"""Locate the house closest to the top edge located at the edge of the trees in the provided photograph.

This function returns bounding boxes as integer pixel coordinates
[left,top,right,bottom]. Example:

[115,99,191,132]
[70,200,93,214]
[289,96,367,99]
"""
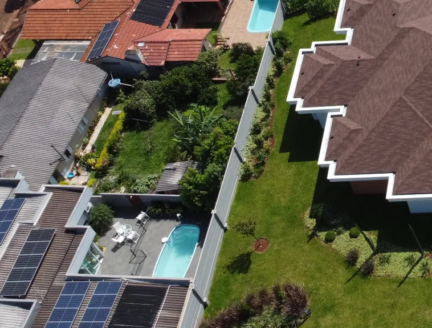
[21,0,212,88]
